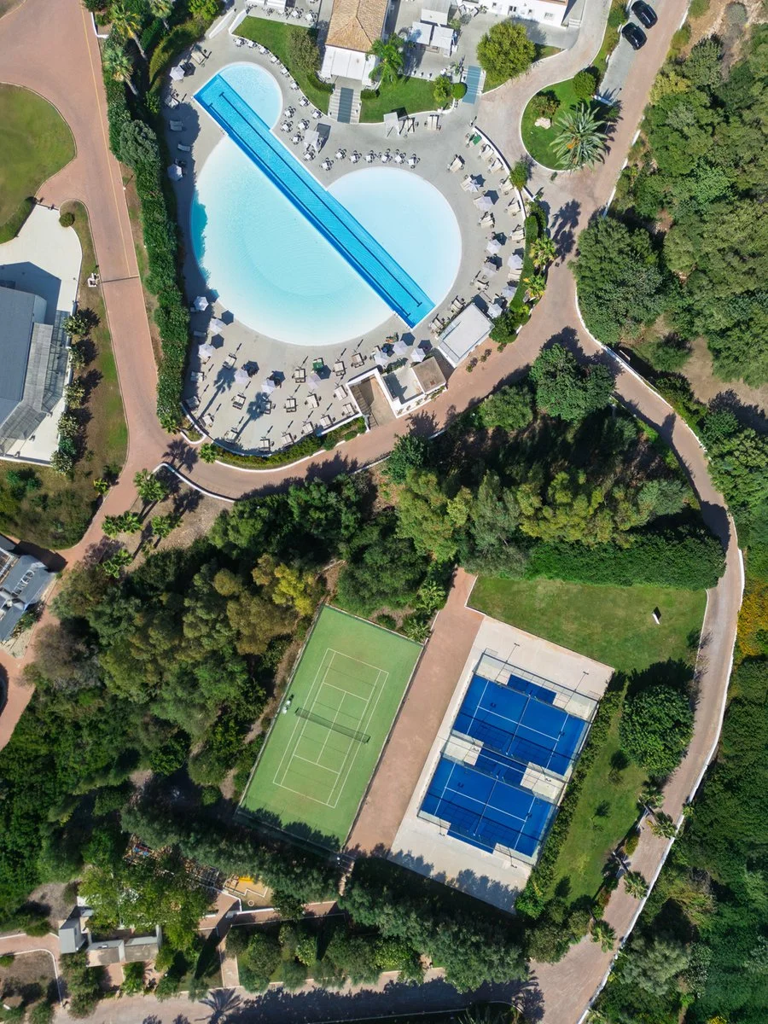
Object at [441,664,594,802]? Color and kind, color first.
blue sports court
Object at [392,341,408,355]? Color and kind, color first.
white umbrella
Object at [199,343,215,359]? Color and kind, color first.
white umbrella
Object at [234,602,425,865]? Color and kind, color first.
green tennis court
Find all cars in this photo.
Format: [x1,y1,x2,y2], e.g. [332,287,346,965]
[631,1,656,30]
[621,23,646,52]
